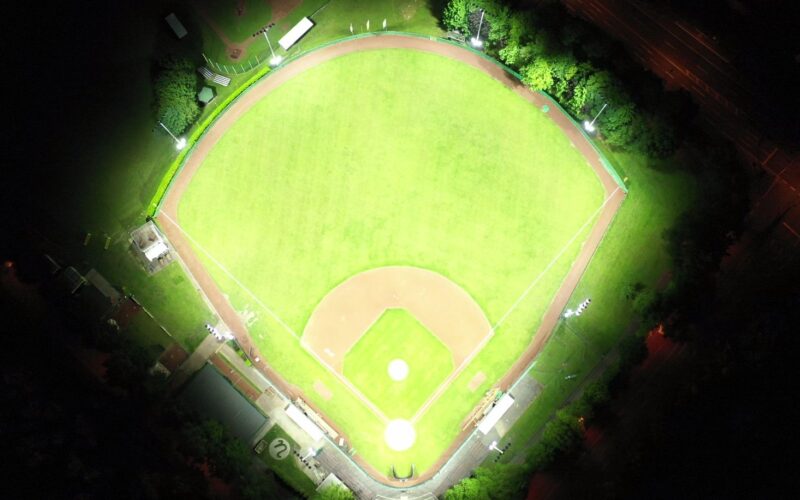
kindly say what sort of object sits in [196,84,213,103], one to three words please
gazebo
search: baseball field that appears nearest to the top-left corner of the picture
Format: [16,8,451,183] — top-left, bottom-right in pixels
[195,0,304,62]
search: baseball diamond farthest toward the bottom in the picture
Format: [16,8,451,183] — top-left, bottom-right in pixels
[155,33,627,487]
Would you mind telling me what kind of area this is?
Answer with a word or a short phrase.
sports ground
